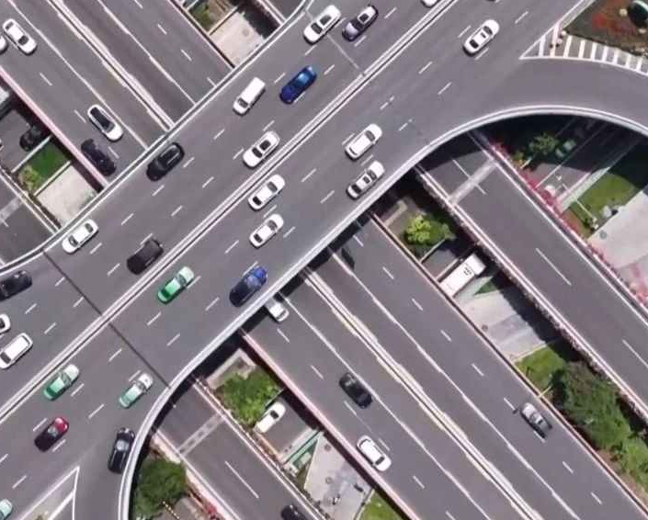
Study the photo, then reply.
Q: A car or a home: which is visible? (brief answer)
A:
car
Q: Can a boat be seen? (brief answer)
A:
No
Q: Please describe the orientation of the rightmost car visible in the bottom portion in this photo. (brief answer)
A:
at an angle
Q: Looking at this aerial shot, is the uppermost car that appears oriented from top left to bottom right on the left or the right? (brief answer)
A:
left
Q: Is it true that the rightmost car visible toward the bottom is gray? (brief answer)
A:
Yes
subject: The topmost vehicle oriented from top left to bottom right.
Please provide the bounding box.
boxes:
[0,16,40,57]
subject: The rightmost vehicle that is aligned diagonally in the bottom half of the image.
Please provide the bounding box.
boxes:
[516,398,555,441]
